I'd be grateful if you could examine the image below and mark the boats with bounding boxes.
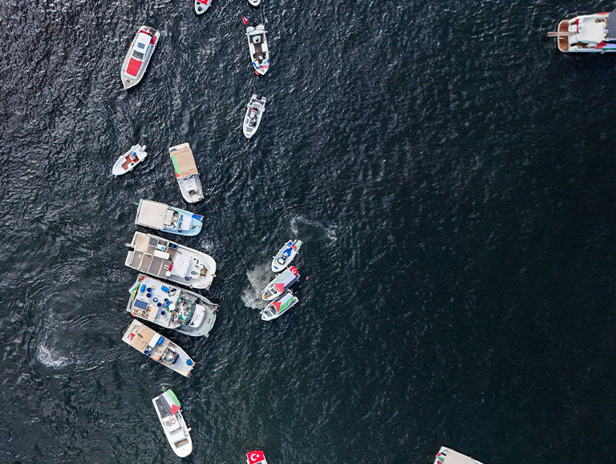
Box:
[153,388,191,458]
[125,233,216,288]
[195,0,212,15]
[135,200,203,234]
[263,265,300,299]
[432,446,485,464]
[124,25,159,91]
[262,289,297,320]
[122,319,195,378]
[169,144,199,203]
[127,276,220,331]
[245,91,268,142]
[543,12,616,54]
[111,144,146,175]
[273,238,301,271]
[247,23,271,75]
